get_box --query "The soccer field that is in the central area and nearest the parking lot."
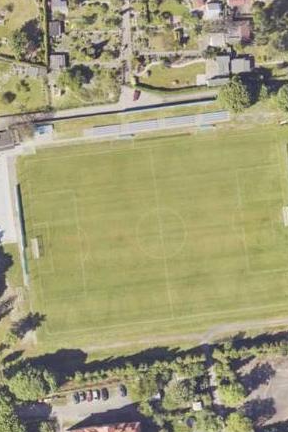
[22,124,288,345]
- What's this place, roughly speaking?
sports ground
